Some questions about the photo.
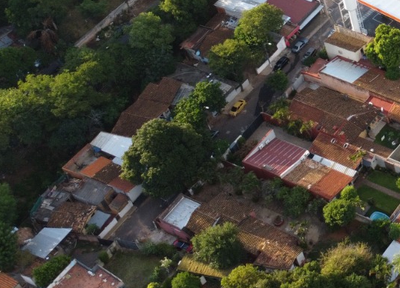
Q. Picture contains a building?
Yes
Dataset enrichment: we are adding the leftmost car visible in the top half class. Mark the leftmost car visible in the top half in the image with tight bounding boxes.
[230,99,246,117]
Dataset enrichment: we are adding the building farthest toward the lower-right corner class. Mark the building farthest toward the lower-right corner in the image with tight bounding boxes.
[381,245,400,278]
